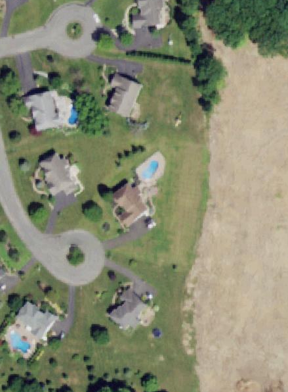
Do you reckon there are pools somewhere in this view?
Yes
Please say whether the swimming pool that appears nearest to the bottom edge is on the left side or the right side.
left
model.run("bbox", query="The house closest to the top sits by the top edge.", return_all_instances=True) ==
[131,0,166,30]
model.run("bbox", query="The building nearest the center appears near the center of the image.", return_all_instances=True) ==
[110,182,152,230]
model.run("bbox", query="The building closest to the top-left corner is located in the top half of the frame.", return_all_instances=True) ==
[22,91,63,134]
